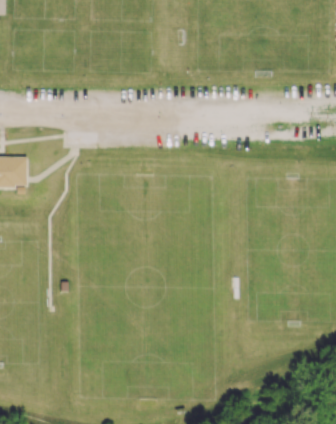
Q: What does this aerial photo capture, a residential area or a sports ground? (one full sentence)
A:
What you see here is a sports ground.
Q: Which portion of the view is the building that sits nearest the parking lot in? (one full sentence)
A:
The building that sits nearest the parking lot is located in the left region of the scene.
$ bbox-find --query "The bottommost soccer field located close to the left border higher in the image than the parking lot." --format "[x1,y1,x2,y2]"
[13,30,76,72]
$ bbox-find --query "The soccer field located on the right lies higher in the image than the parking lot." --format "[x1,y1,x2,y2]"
[197,0,330,72]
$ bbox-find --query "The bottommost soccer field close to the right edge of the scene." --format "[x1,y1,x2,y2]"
[247,178,336,322]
